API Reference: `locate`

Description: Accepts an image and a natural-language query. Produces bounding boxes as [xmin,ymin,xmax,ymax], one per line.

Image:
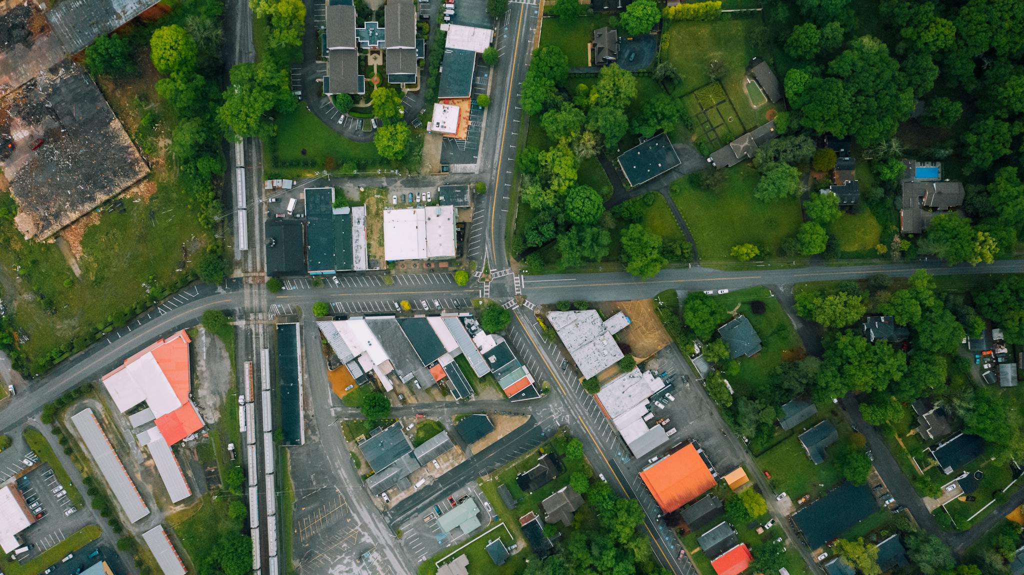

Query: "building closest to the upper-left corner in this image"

[46,0,178,61]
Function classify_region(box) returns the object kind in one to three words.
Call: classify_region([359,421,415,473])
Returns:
building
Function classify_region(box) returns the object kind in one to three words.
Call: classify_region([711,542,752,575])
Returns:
house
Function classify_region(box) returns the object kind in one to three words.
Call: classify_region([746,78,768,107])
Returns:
swimming pool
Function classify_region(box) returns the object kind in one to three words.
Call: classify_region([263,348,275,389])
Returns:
rail car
